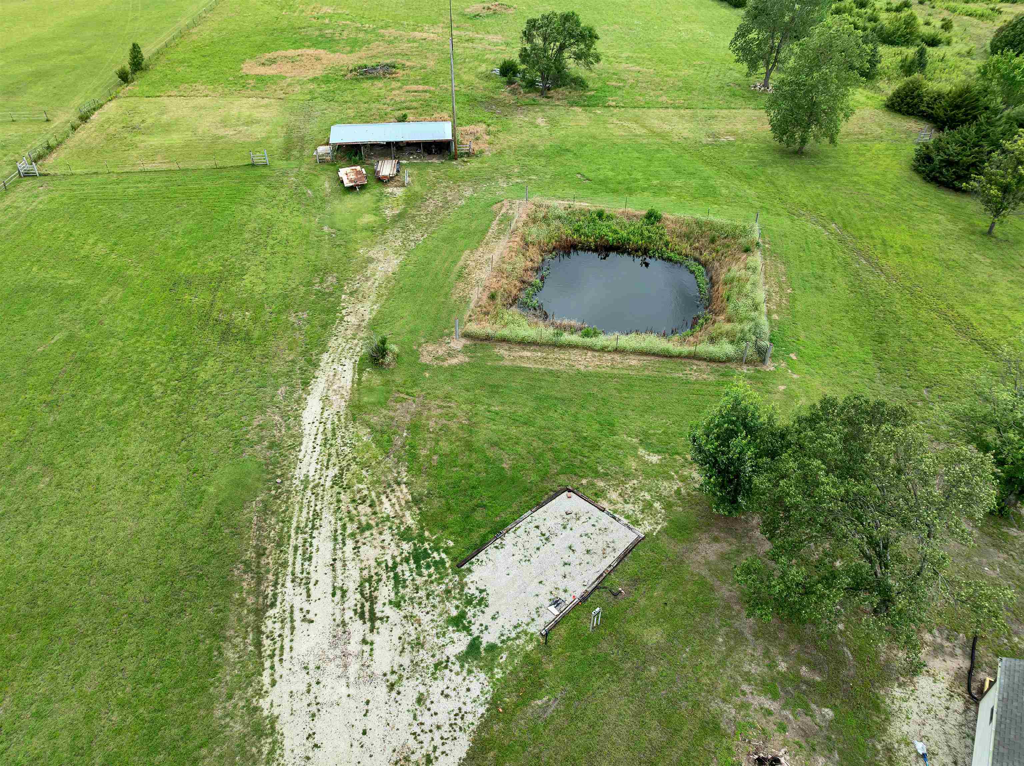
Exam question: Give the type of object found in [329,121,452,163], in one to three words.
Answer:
shed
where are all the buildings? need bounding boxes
[972,656,1024,766]
[329,121,452,163]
